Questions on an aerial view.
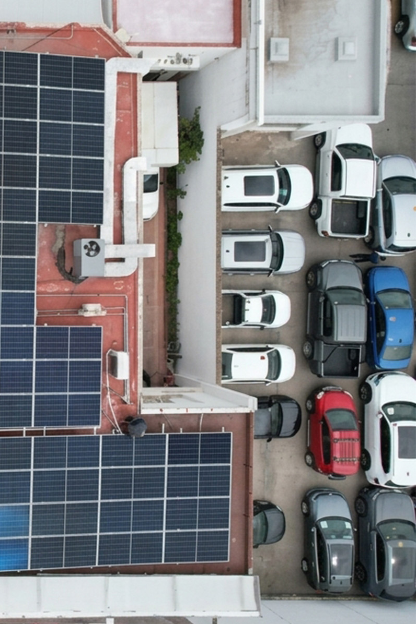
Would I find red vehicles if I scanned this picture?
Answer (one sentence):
Yes, there is a red vehicle in the image.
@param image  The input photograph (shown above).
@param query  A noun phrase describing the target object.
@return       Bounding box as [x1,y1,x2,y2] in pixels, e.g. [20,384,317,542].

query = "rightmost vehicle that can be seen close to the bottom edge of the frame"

[355,488,416,597]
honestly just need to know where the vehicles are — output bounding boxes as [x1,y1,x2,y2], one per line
[364,154,416,257]
[253,497,286,547]
[224,162,316,212]
[142,169,170,221]
[384,0,416,53]
[311,128,376,237]
[359,372,416,484]
[297,488,360,592]
[359,266,416,367]
[224,226,307,274]
[211,342,296,386]
[247,394,303,440]
[224,288,292,330]
[355,488,416,597]
[306,261,369,376]
[305,387,366,481]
